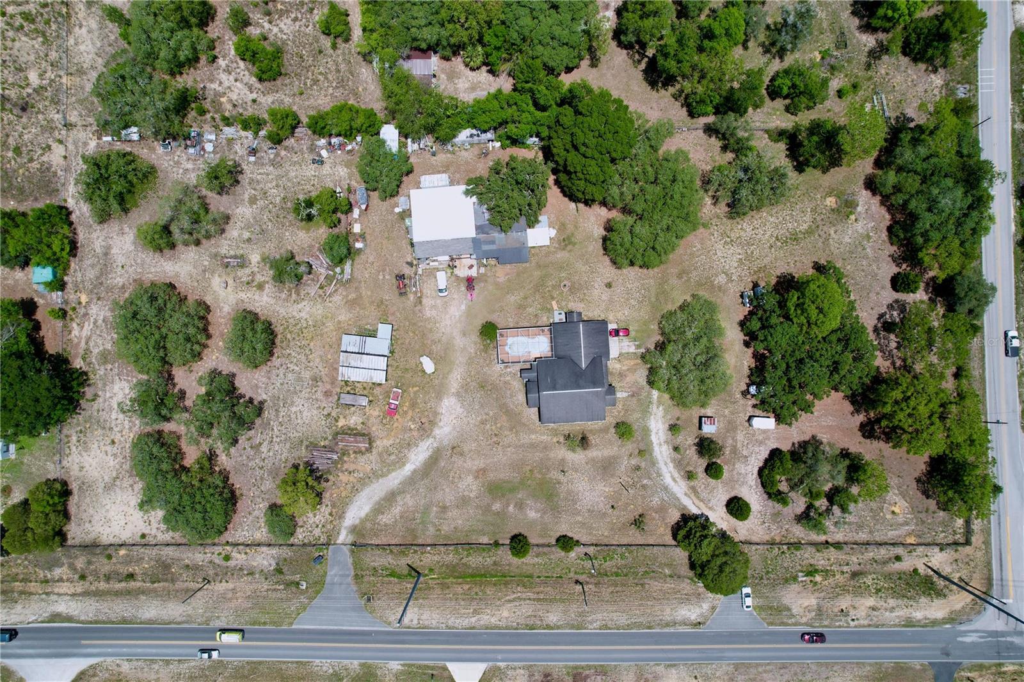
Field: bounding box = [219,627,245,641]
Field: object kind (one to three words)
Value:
vehicle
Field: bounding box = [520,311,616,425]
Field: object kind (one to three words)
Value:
house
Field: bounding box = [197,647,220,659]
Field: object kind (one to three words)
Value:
vehicle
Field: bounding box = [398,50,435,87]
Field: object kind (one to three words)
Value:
shed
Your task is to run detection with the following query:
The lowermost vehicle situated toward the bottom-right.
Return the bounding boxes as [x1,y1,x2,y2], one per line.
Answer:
[801,631,825,643]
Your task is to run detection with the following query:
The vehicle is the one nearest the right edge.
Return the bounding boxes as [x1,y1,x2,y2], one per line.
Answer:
[1003,330,1018,358]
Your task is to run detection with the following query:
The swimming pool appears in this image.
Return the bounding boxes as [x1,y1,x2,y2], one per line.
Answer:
[499,328,554,363]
